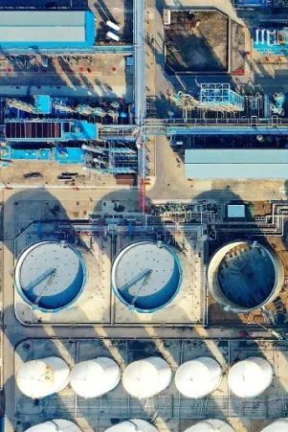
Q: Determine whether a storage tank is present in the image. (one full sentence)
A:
Yes, I can see a storage tank in this picture.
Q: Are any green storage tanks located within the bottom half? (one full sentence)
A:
No, looking within the bottom half, there is no green storage tank.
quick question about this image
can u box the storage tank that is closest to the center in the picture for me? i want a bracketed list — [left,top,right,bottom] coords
[109,238,193,313]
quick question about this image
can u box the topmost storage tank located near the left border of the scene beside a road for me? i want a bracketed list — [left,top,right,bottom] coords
[13,238,98,312]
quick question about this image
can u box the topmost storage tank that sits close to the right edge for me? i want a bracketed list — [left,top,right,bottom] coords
[207,237,288,316]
